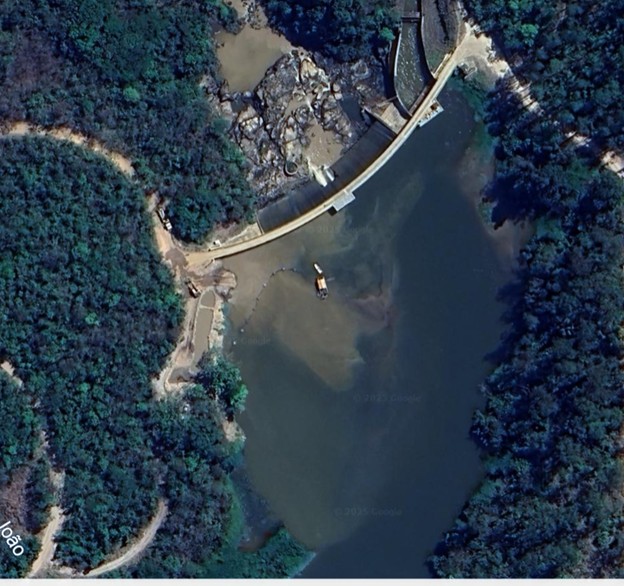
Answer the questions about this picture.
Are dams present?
Yes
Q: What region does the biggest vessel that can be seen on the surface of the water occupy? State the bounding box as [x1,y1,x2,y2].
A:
[317,276,333,299]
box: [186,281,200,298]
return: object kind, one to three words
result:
vehicle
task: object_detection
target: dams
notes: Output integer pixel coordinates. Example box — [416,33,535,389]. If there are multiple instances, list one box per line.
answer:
[208,40,465,259]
